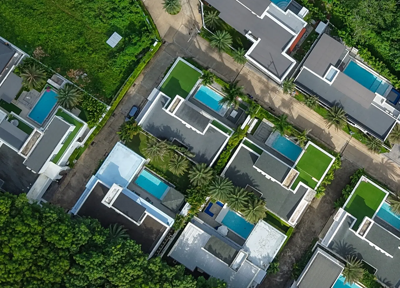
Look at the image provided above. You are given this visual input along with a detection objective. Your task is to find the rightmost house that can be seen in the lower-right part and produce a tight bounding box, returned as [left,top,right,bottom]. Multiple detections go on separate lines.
[320,174,400,288]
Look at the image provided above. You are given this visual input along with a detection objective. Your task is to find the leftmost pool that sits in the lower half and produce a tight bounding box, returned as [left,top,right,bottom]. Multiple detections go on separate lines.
[133,169,172,201]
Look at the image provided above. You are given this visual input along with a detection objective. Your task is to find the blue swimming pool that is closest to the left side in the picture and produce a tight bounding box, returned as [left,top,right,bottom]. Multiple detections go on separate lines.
[25,86,61,127]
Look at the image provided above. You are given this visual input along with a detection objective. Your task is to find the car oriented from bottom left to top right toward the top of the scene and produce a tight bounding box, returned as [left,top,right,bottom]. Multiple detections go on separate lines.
[123,103,140,125]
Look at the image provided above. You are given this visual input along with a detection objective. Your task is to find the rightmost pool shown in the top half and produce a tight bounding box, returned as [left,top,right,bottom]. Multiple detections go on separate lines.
[386,85,400,107]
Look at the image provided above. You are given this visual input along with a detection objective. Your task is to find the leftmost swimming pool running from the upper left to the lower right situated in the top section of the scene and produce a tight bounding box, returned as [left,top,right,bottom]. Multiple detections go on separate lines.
[192,83,231,119]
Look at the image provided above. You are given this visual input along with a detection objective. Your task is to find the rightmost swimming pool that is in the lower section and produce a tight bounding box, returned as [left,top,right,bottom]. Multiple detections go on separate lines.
[377,202,400,232]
